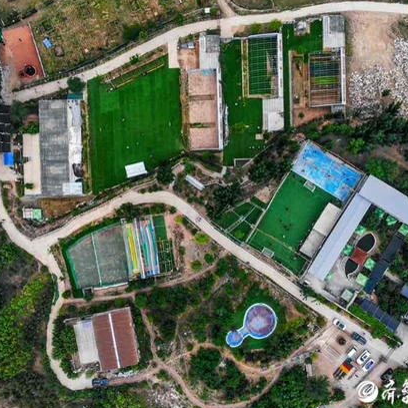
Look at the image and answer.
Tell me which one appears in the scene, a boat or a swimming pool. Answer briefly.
swimming pool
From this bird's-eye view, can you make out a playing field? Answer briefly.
Yes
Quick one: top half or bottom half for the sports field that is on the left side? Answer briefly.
top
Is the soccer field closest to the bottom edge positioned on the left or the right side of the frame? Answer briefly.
right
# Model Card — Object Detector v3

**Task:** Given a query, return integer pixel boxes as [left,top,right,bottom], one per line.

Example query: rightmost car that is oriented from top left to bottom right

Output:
[351,331,368,345]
